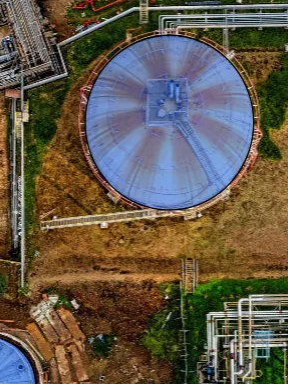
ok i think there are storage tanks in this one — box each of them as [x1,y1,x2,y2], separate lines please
[0,329,48,384]
[80,28,265,219]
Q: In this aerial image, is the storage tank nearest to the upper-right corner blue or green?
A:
blue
